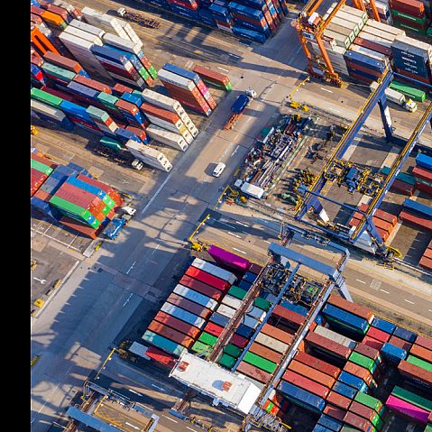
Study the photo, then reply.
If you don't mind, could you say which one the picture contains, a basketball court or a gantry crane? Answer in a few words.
gantry crane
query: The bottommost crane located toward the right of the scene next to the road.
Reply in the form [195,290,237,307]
[166,224,357,432]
